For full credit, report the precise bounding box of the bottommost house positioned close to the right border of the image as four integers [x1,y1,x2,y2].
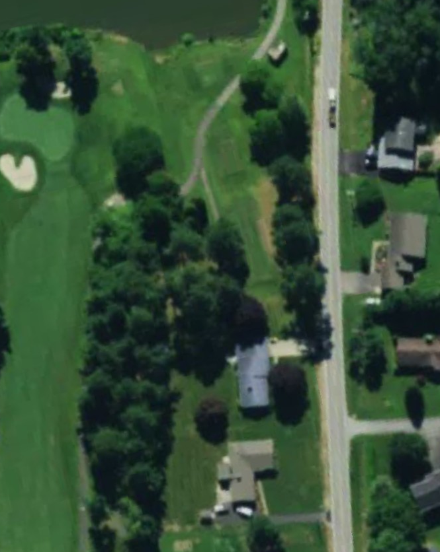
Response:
[404,467,440,512]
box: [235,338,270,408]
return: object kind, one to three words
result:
house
